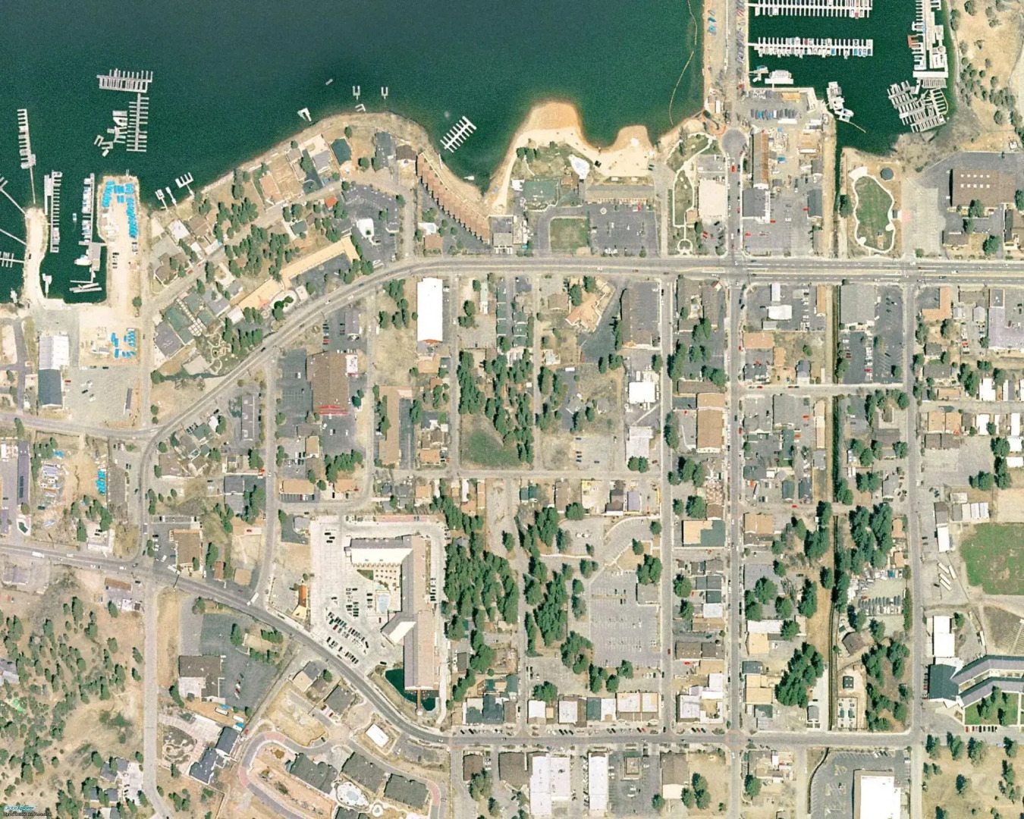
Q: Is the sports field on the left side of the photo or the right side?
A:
right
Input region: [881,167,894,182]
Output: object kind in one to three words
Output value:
gazebo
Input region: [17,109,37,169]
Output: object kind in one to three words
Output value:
pier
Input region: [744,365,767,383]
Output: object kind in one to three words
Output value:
building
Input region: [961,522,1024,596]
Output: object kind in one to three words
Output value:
sports field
